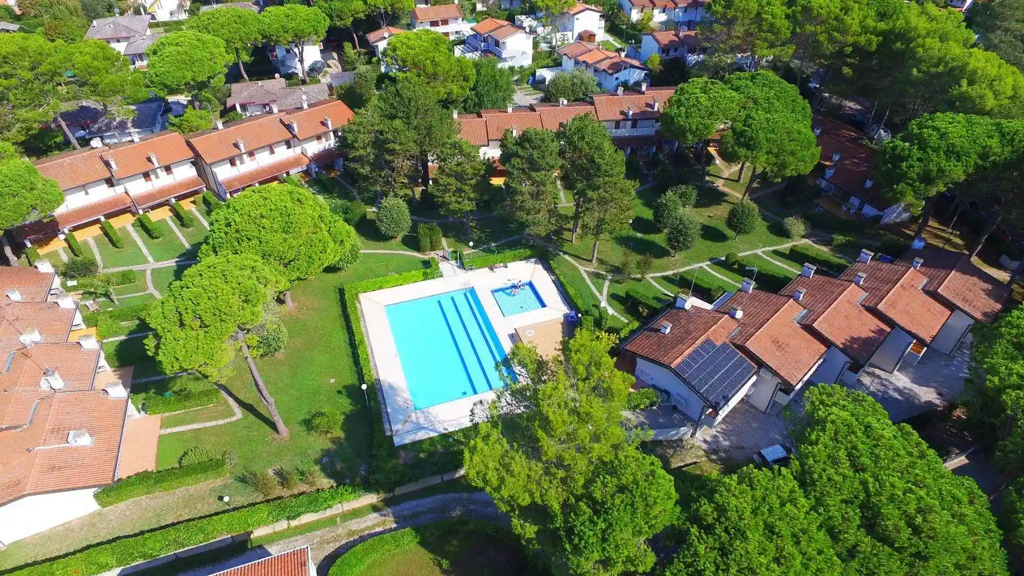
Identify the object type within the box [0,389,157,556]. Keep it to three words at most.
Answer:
house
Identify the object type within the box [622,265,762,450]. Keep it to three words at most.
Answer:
house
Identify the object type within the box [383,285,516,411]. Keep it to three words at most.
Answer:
swimming pool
